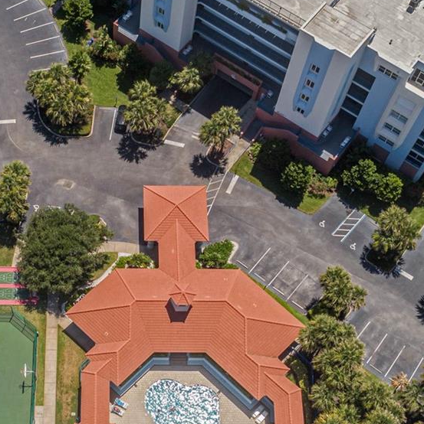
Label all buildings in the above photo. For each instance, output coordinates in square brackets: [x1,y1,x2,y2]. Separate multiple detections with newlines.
[66,186,303,424]
[98,0,424,181]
